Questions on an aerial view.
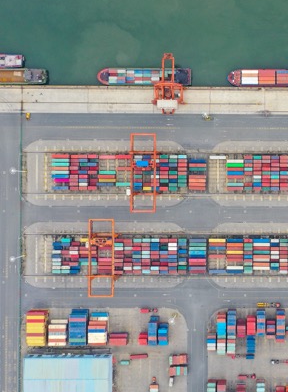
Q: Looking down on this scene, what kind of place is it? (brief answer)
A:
port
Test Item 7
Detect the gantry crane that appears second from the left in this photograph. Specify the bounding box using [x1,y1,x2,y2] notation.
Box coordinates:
[126,134,164,213]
